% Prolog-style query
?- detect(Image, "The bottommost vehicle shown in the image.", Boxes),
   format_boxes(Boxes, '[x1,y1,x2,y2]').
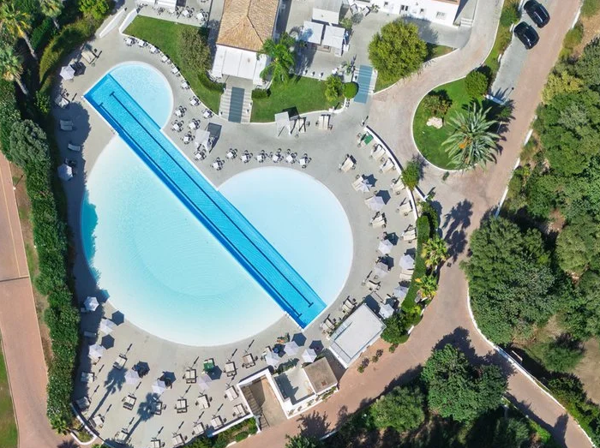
[514,22,539,51]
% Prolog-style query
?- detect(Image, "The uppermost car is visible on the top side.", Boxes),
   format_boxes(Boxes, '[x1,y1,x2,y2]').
[524,0,549,29]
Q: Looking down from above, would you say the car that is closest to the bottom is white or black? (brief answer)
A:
black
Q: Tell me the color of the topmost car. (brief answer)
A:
black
